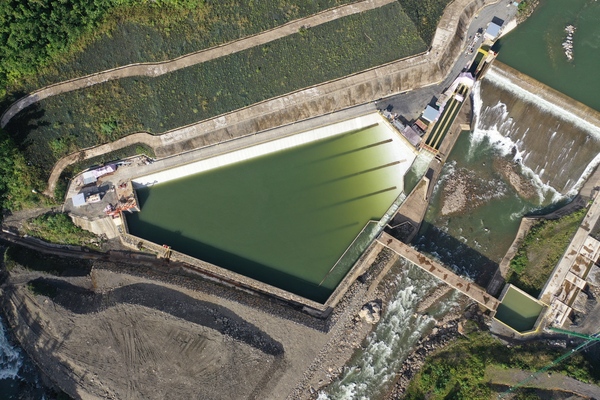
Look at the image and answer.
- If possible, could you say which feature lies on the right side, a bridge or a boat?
bridge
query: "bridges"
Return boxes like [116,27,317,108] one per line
[374,230,503,314]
